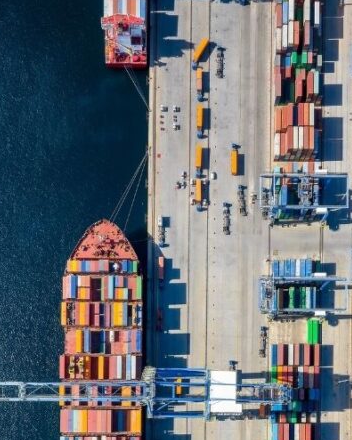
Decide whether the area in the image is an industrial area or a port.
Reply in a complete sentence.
This image shows a port.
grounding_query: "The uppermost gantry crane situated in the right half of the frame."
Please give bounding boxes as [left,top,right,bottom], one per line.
[261,169,352,216]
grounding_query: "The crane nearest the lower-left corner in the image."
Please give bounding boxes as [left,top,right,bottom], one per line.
[0,361,290,423]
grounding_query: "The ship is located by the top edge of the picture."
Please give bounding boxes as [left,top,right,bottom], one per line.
[102,0,148,67]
